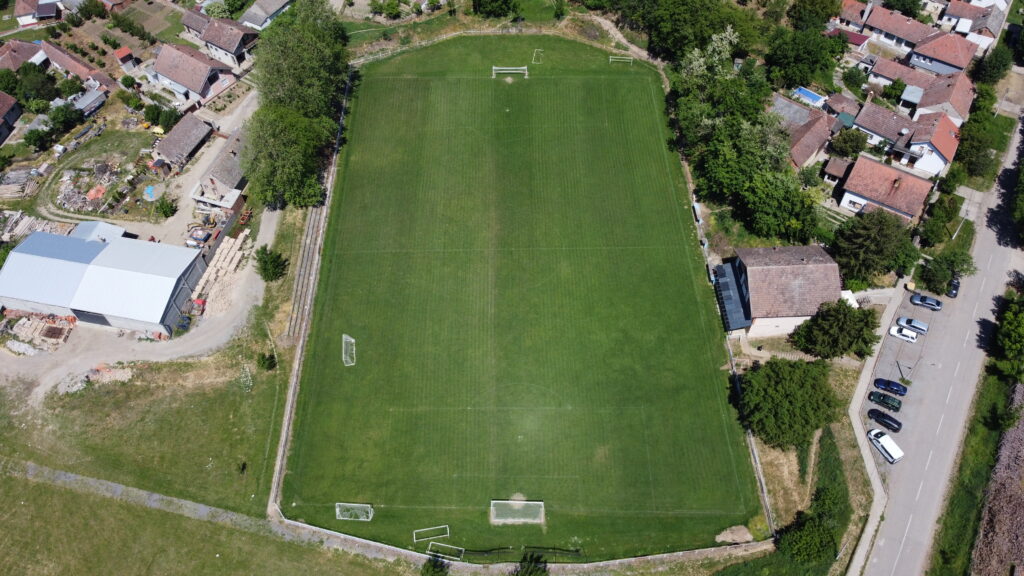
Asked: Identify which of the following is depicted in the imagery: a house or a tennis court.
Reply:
house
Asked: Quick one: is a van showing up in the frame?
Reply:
Yes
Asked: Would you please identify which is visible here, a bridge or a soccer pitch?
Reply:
soccer pitch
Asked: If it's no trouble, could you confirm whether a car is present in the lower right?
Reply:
Yes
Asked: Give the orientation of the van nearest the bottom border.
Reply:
on a diagonal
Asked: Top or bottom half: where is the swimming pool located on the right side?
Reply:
top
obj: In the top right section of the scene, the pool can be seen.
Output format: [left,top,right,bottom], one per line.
[792,87,829,109]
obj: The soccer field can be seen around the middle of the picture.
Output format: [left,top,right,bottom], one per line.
[273,36,772,565]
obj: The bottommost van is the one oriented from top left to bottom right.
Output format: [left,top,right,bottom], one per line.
[866,427,910,464]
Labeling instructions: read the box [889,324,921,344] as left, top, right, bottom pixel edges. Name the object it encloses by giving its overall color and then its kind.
white car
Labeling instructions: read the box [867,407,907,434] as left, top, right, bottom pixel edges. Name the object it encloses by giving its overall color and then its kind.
black car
